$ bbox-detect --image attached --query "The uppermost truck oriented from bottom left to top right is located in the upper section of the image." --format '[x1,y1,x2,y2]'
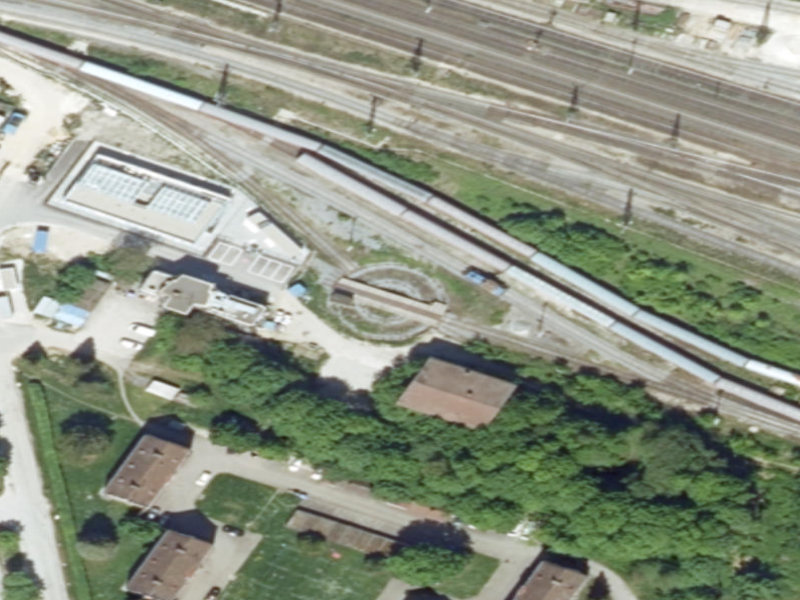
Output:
[2,109,23,135]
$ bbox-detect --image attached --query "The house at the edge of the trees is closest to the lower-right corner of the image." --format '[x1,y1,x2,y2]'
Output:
[517,560,589,600]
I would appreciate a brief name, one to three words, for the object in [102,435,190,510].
house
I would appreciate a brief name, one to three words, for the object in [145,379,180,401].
shed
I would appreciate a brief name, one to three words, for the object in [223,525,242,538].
vehicle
